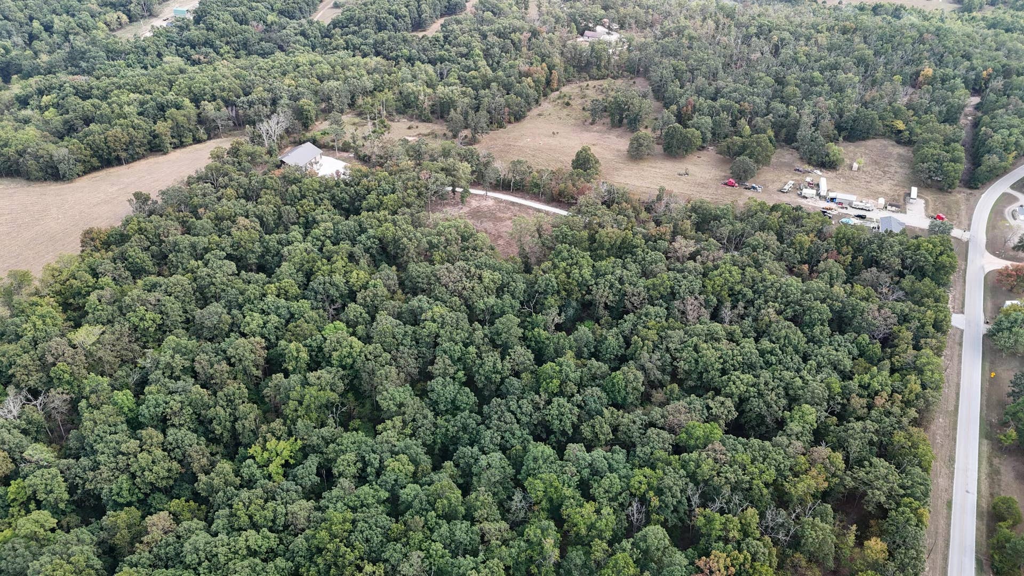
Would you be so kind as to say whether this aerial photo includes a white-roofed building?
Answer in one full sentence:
Yes, there's a white-roofed building here.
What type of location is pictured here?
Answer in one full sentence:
It's a forest.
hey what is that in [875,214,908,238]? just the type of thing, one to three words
house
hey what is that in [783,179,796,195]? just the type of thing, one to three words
vehicle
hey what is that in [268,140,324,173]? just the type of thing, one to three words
building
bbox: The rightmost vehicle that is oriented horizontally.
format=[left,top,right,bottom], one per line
[928,210,949,222]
